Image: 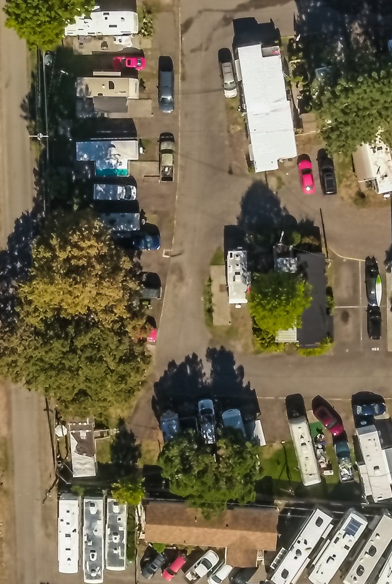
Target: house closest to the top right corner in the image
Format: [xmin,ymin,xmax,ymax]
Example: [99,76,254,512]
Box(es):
[235,44,296,172]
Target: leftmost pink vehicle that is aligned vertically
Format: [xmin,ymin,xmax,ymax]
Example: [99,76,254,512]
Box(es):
[296,160,314,195]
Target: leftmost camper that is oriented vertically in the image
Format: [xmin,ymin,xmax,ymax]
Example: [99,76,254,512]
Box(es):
[59,486,82,573]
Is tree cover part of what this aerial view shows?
Yes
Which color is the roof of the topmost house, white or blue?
white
